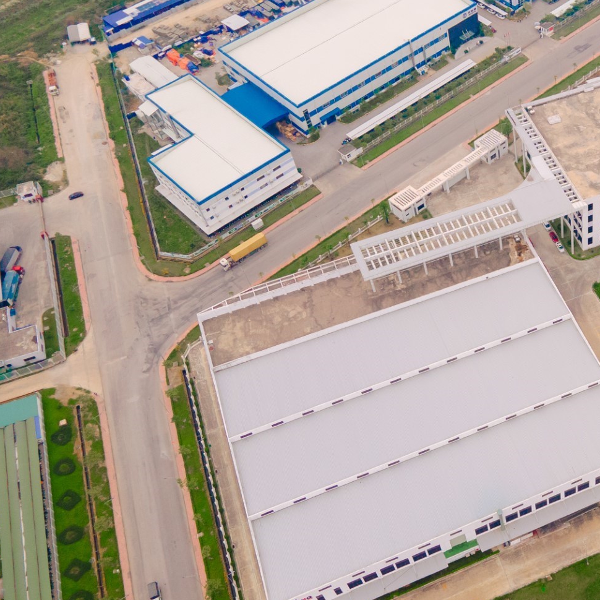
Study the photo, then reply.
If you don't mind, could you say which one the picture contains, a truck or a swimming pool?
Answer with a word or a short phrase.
truck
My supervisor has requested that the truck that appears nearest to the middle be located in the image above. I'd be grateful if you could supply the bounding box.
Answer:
[217,236,273,275]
